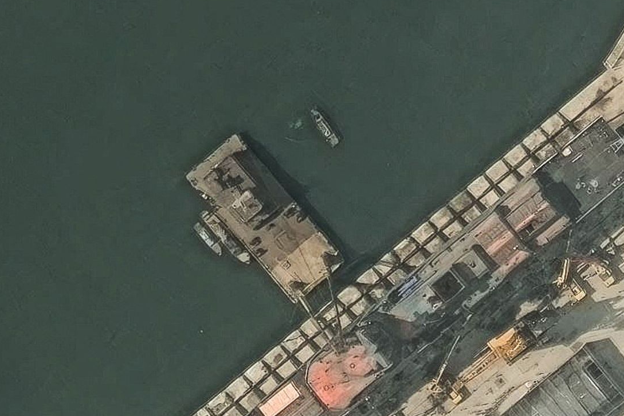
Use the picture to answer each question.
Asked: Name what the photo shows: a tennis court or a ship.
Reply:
ship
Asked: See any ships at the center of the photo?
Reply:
Yes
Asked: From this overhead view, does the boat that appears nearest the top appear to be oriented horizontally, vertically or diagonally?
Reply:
diagonally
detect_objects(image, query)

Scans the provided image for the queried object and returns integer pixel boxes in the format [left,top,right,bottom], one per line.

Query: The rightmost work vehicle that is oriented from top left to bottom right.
[587,257,615,285]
